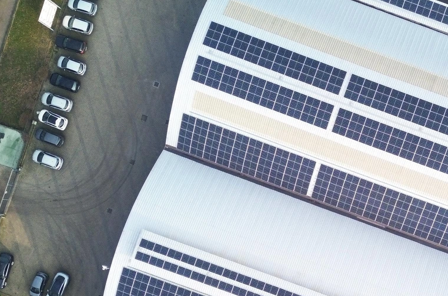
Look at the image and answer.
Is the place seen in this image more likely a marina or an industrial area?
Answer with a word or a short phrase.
industrial area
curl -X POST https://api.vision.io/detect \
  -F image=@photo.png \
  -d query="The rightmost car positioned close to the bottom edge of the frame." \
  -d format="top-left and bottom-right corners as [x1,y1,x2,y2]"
[46,271,71,296]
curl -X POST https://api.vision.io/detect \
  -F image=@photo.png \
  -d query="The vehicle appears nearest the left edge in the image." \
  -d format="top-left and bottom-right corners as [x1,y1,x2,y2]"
[0,252,15,289]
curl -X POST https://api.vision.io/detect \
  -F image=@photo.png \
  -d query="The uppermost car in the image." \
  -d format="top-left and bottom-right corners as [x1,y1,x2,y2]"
[67,0,99,17]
